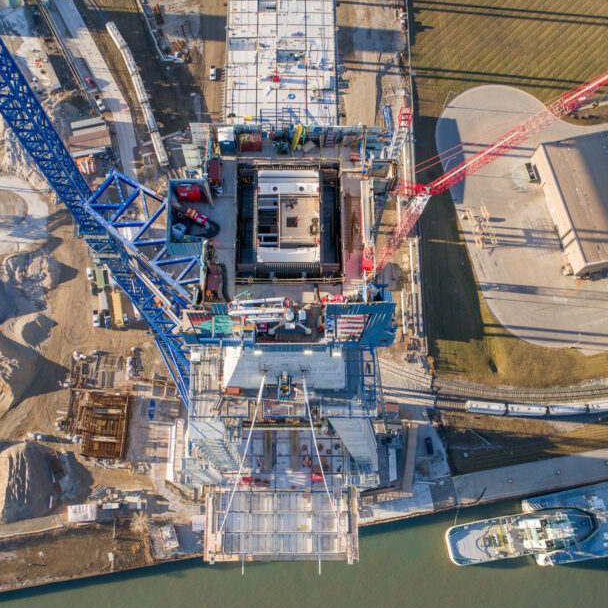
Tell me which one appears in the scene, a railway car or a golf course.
railway car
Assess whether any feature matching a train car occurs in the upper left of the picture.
Yes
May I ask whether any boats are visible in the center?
No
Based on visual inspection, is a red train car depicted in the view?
No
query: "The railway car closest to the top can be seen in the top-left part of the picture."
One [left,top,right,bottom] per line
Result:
[105,23,128,52]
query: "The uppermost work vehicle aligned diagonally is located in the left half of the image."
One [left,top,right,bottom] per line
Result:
[152,39,170,54]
